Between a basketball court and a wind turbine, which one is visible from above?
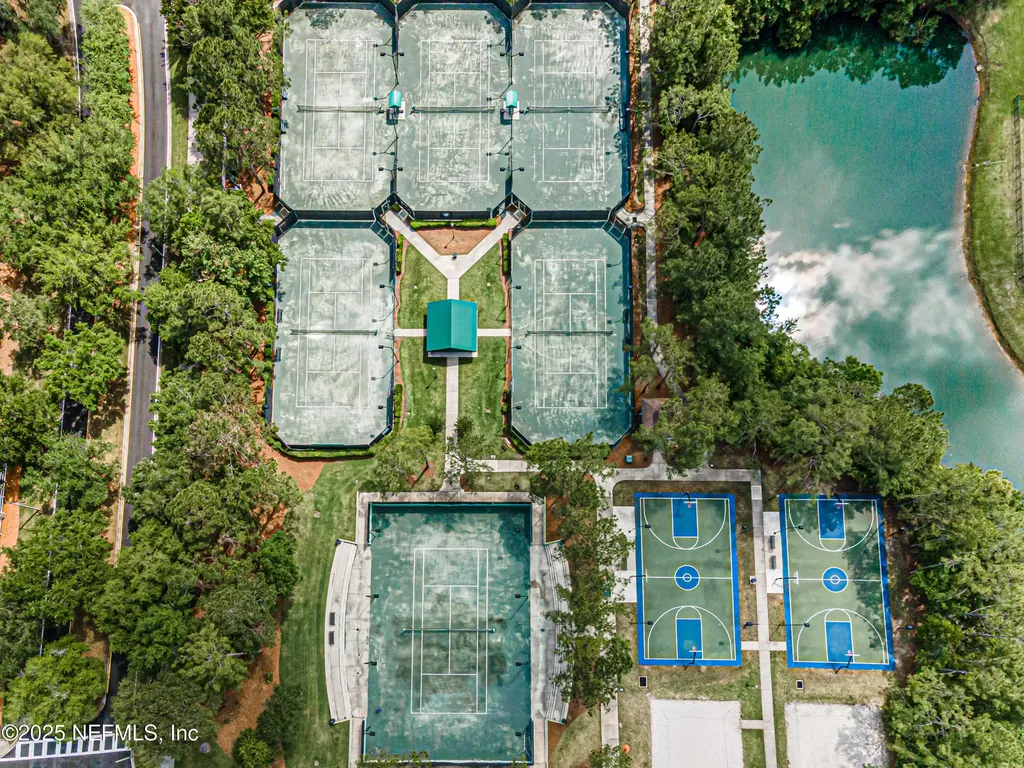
basketball court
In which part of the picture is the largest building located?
center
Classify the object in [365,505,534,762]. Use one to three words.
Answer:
tennis court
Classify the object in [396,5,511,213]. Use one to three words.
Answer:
tennis court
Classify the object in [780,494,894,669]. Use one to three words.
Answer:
basketball court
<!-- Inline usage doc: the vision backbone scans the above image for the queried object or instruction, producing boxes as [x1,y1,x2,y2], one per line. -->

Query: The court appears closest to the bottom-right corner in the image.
[785,704,886,768]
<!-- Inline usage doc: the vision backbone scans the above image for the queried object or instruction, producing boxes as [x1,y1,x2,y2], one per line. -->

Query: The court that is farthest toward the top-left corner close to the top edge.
[280,4,396,213]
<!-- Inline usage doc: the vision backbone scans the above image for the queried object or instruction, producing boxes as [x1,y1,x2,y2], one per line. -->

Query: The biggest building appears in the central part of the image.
[427,300,478,357]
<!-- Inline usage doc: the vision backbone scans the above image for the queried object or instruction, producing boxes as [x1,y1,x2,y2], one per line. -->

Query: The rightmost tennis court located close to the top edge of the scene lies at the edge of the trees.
[512,5,627,213]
